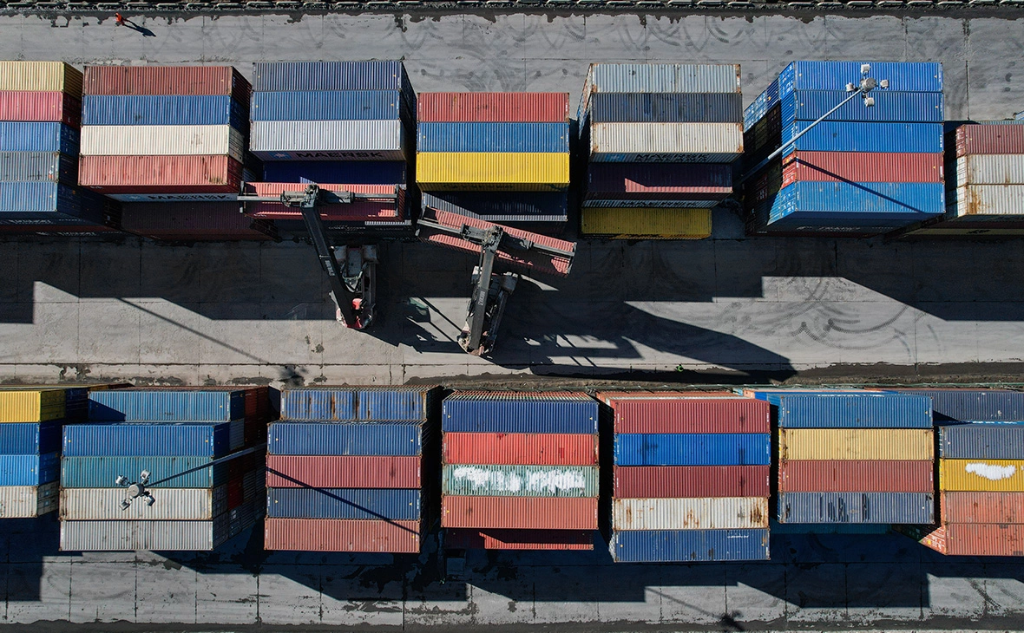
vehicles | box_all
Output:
[415,202,575,358]
[241,181,400,330]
